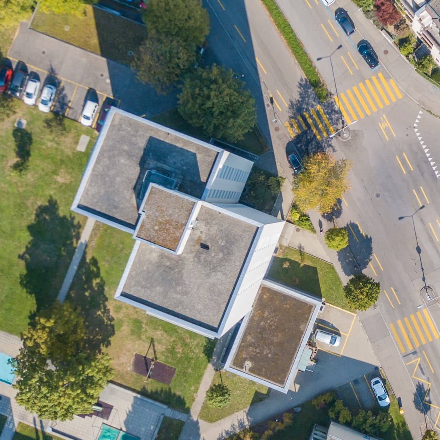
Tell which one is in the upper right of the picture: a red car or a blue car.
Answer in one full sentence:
It is a blue car that can be seen in the upper right of the picture.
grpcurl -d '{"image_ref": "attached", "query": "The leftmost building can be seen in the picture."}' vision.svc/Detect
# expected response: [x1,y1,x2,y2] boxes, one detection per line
[30,0,150,67]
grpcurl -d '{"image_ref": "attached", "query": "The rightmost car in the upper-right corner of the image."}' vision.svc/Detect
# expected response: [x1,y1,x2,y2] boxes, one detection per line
[356,38,381,71]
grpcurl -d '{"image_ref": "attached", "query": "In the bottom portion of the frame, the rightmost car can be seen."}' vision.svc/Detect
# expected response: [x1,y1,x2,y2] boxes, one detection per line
[370,376,390,408]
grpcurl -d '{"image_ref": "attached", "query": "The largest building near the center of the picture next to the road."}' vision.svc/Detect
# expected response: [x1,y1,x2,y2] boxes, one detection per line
[71,108,323,394]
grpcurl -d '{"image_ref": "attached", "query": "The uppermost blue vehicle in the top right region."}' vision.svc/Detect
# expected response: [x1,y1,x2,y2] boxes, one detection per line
[334,6,356,37]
